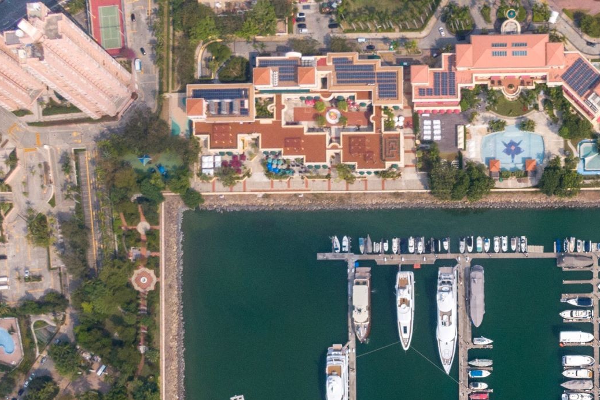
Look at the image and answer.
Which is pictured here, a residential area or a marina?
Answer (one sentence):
It's a marina.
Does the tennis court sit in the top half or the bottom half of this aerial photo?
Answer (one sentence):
The tennis court is in the top half of the image.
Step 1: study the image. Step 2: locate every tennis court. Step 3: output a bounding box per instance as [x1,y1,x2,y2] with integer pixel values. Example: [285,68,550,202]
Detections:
[90,0,134,58]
